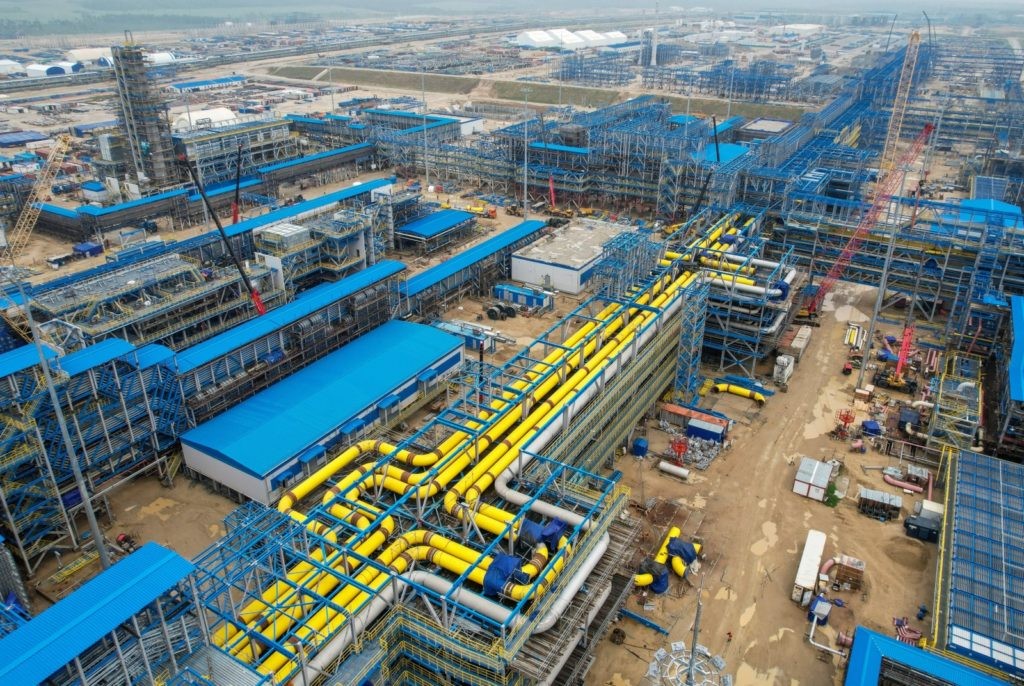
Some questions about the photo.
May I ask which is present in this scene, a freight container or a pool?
freight container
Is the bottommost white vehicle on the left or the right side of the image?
right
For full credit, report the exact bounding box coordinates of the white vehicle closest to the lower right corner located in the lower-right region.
[783,528,825,628]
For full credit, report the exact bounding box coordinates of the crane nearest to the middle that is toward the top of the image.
[539,179,573,217]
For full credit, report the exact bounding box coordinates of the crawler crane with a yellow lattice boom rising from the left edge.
[0,137,86,272]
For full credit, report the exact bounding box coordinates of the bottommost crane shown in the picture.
[866,319,929,398]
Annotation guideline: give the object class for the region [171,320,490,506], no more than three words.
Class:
building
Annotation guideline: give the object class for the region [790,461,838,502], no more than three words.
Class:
building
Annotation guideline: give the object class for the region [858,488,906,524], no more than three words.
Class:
shed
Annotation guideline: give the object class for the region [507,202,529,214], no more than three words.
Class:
vehicle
